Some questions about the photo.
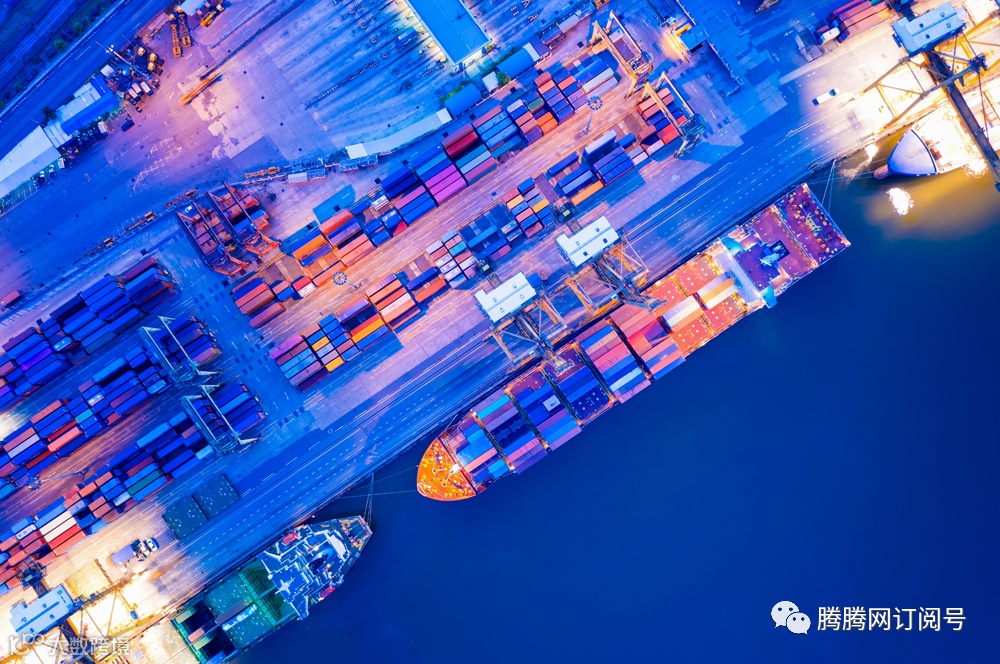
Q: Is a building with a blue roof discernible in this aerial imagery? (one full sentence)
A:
Yes, I can see a building with a blue roof in this picture.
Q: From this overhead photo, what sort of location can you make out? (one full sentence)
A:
The picture captures a port.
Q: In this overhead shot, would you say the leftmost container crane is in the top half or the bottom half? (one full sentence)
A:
The leftmost container crane is in the bottom half of the image.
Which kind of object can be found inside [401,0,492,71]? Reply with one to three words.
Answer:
building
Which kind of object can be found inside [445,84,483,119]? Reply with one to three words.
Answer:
shed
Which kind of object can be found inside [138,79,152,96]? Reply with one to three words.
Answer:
vehicle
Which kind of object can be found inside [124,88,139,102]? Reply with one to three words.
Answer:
vehicle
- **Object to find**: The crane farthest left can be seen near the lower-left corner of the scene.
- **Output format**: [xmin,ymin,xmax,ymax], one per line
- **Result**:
[13,554,171,664]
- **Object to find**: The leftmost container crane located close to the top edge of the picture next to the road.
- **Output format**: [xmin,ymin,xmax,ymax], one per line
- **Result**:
[585,4,662,100]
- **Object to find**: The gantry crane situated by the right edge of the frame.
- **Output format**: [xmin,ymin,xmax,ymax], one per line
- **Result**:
[846,0,1000,193]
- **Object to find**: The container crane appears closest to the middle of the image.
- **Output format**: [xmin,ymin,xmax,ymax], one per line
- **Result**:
[466,251,571,375]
